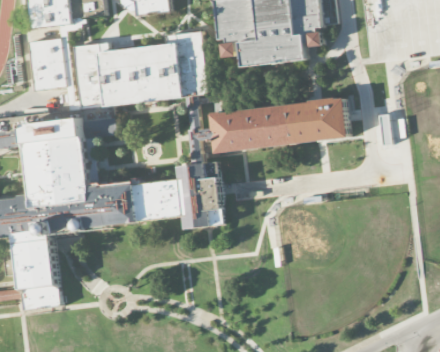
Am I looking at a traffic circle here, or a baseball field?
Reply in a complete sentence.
Of the two, only a baseball field appears.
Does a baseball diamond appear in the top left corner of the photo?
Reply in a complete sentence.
No, there's no baseball diamond to be seen in the top left corner of the photo.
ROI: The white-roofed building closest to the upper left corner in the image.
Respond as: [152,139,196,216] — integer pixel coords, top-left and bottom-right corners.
[30,0,76,28]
